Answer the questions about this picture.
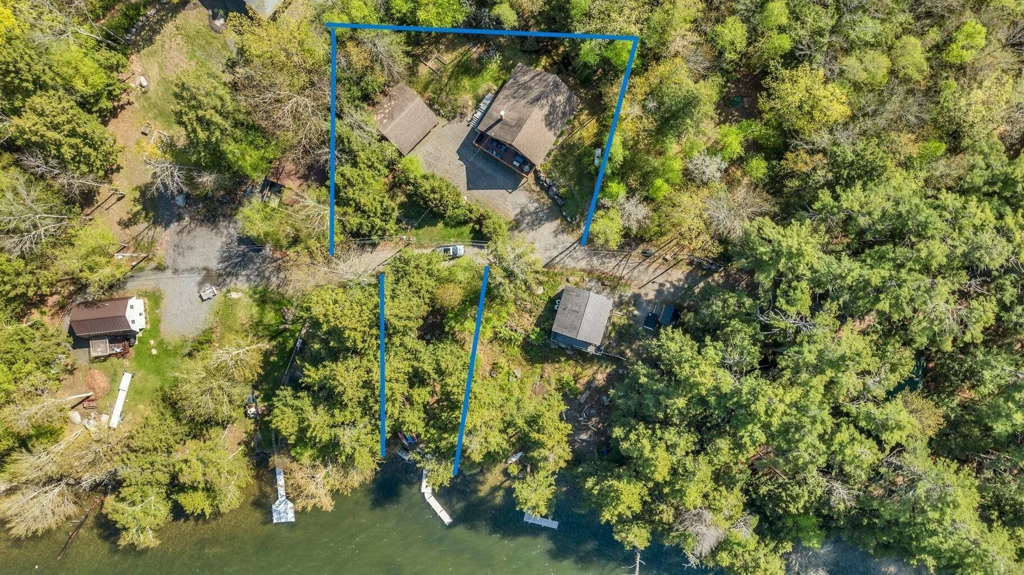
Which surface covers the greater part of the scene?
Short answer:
trees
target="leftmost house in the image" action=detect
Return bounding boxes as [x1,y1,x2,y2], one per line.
[69,297,146,338]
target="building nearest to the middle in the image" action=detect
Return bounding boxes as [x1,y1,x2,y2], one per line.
[552,286,613,355]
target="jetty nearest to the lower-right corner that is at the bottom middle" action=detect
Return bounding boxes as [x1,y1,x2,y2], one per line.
[523,511,558,529]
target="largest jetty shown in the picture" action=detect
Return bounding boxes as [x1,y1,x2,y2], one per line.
[271,449,296,523]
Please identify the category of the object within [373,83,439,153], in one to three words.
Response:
building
